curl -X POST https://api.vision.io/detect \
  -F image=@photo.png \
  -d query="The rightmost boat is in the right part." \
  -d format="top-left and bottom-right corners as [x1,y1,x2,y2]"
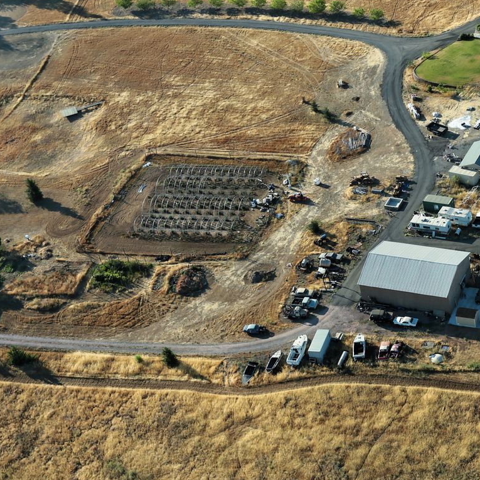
[352,332,365,356]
